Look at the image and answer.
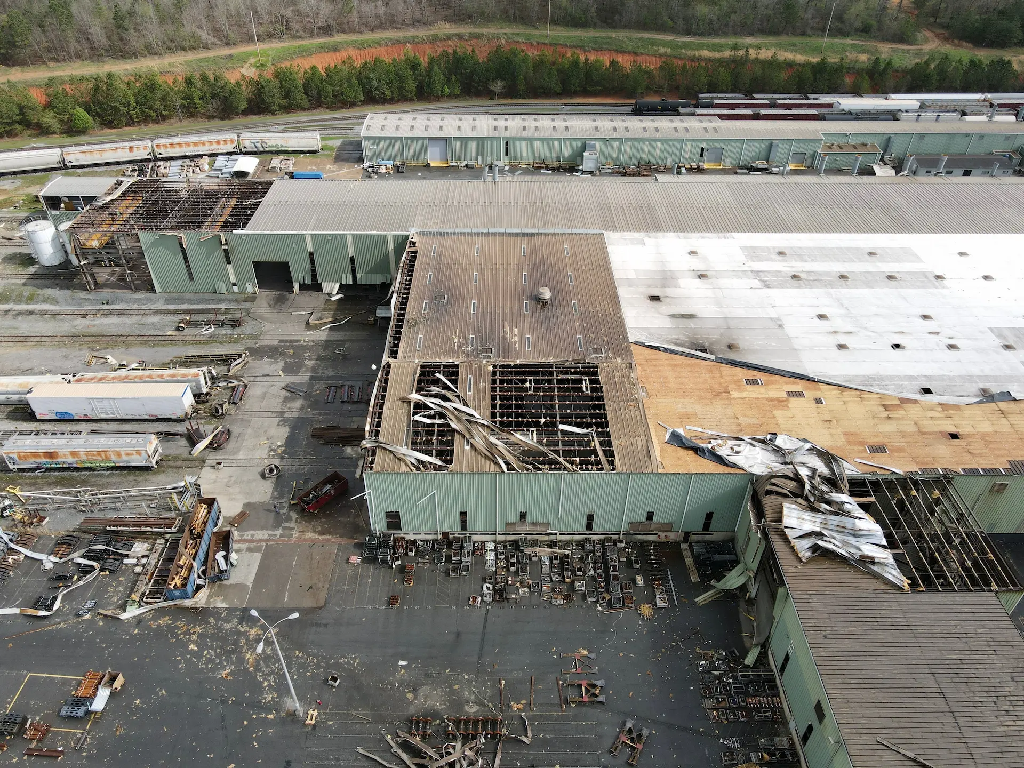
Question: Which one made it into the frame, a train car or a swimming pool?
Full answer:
I can see a train car in this picture.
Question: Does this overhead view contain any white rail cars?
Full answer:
Yes, you can see a white rail car in this photo.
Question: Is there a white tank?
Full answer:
Yes, there's a white tank down there.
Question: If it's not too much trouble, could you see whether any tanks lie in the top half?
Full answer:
Yes, in the top half there is a tank.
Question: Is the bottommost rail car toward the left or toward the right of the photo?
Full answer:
The bottommost rail car sits on the left side.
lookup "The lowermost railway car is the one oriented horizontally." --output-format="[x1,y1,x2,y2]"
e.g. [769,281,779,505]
[6,431,166,466]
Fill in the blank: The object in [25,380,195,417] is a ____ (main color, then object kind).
white rail car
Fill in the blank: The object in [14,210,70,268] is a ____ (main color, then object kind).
white storage tank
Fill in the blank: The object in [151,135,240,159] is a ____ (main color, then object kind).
white rail car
